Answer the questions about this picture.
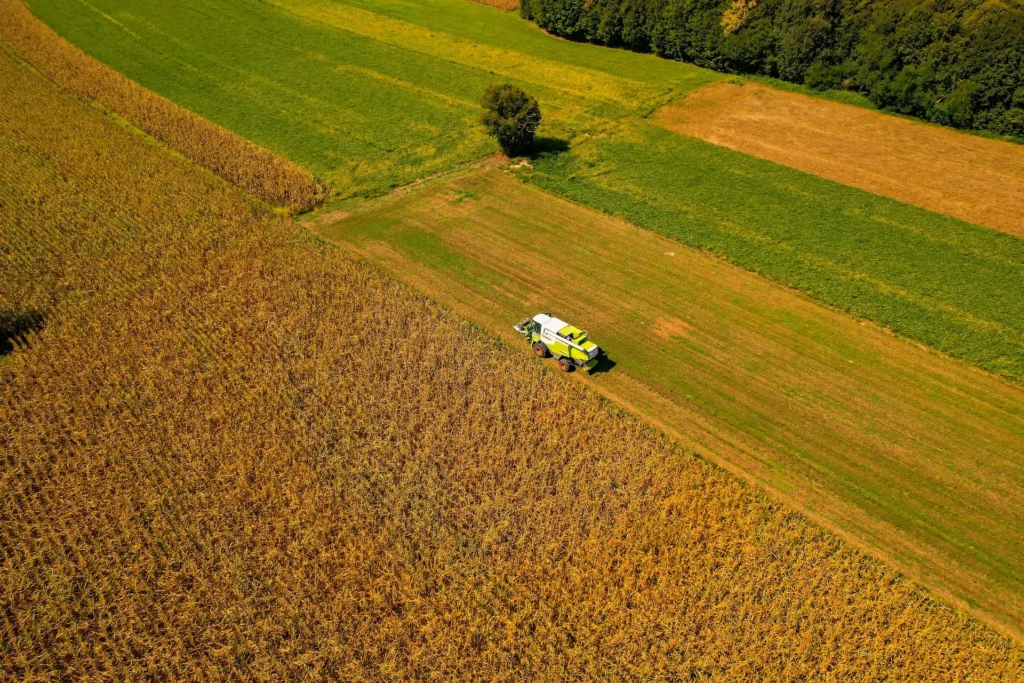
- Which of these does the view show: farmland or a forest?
farmland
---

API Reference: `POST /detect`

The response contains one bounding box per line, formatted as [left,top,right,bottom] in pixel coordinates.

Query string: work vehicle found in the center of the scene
[514,313,600,374]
